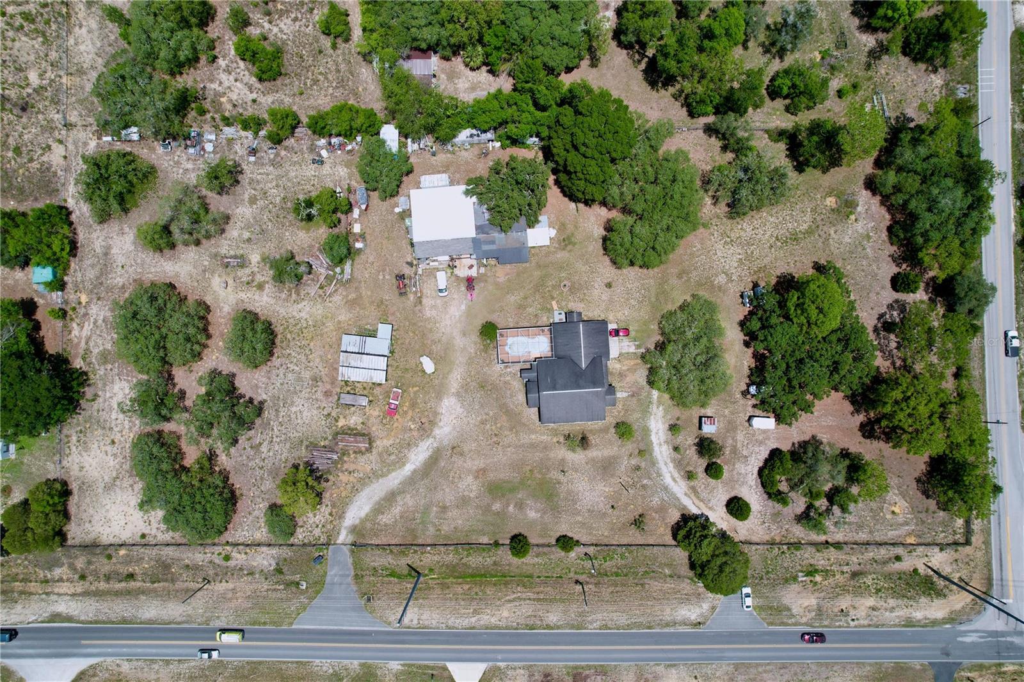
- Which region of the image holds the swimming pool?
center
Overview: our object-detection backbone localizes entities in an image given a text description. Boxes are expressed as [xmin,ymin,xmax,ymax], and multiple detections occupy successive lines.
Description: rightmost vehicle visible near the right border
[1003,330,1018,358]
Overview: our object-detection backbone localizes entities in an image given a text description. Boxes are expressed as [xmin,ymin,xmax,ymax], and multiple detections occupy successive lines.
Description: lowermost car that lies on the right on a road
[801,631,825,643]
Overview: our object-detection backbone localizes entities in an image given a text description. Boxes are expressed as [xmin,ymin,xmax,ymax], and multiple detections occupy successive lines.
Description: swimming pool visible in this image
[499,328,554,363]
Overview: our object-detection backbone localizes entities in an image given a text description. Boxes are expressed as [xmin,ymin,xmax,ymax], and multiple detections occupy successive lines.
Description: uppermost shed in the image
[398,50,435,87]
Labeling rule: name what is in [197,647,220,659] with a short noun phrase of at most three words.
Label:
vehicle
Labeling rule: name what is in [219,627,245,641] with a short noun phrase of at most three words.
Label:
vehicle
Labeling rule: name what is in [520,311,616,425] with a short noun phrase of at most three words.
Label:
house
